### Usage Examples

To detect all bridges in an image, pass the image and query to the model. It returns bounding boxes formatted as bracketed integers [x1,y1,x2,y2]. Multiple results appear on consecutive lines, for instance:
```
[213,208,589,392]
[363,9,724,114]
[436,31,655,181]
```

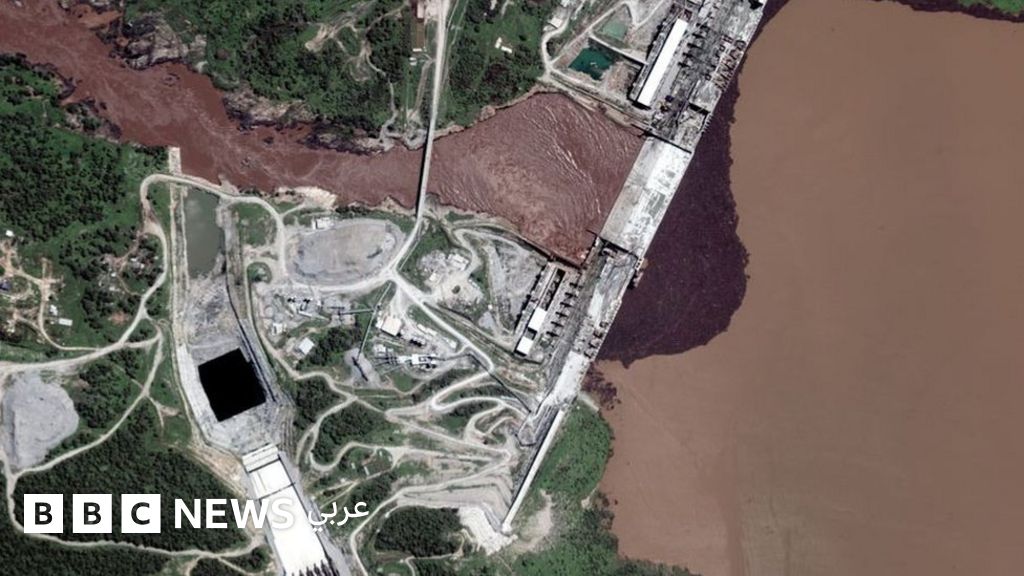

[415,119,434,218]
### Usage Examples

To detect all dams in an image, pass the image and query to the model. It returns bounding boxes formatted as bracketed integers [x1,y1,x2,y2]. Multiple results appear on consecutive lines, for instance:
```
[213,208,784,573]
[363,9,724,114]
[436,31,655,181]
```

[500,0,766,539]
